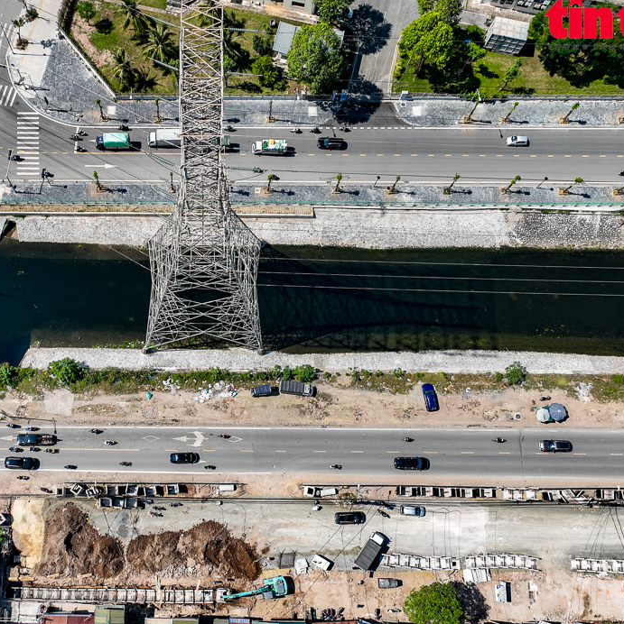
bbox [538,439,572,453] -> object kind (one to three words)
car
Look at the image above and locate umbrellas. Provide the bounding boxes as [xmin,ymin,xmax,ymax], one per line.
[547,403,566,422]
[533,408,548,422]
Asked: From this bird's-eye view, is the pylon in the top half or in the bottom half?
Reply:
top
